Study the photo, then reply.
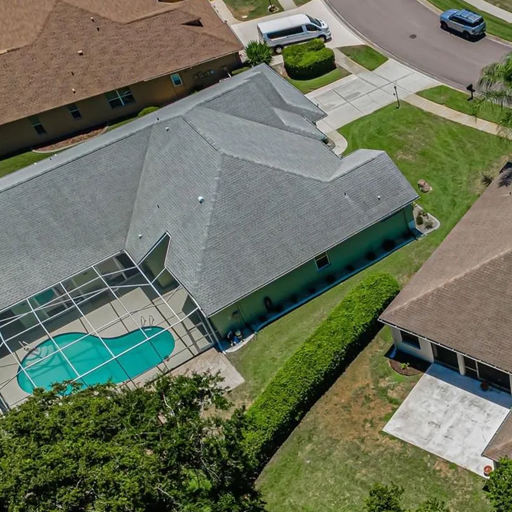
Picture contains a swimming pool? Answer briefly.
Yes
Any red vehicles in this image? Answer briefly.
No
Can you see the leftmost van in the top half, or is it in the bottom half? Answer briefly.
top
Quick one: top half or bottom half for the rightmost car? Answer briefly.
top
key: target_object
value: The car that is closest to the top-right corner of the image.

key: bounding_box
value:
[435,7,486,39]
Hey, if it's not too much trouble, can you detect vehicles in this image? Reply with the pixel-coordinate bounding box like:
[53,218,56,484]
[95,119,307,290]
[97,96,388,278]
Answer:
[255,10,333,53]
[435,7,486,39]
